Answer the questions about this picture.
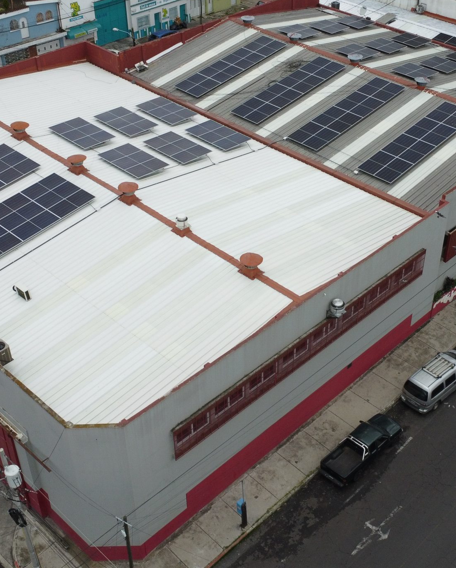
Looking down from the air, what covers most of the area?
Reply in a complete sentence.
The largest share of the image is taken up by buildings.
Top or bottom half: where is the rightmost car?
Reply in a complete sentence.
The rightmost car is in the bottom half of the image.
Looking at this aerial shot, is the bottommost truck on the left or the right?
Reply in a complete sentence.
The bottommost truck is on the right side of the image.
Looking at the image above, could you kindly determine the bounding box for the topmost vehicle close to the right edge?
[400,349,456,416]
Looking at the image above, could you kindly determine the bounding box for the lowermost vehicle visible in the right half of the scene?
[315,411,406,495]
